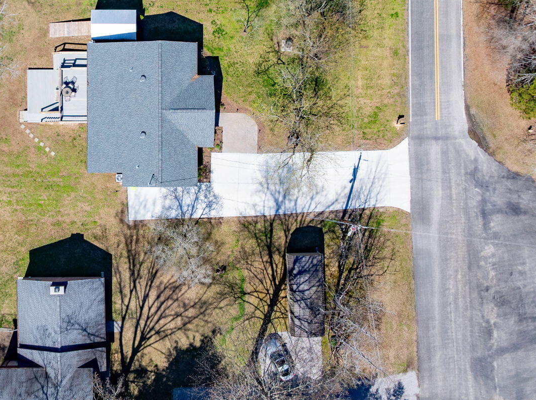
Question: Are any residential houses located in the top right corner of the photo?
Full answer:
No, the scene shows no residential house in the top right corner of the photo.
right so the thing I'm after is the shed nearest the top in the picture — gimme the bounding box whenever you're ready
[91,10,136,41]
